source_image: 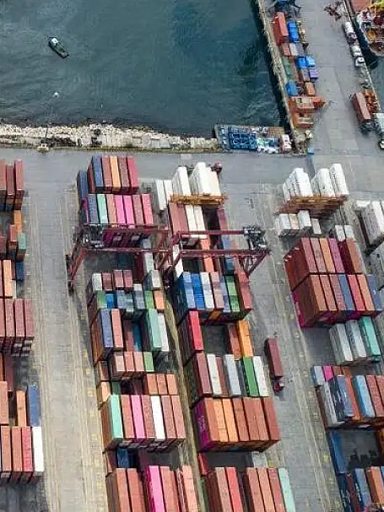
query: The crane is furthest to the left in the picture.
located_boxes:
[66,224,181,297]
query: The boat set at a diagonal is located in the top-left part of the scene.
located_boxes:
[49,39,71,60]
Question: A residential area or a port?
port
